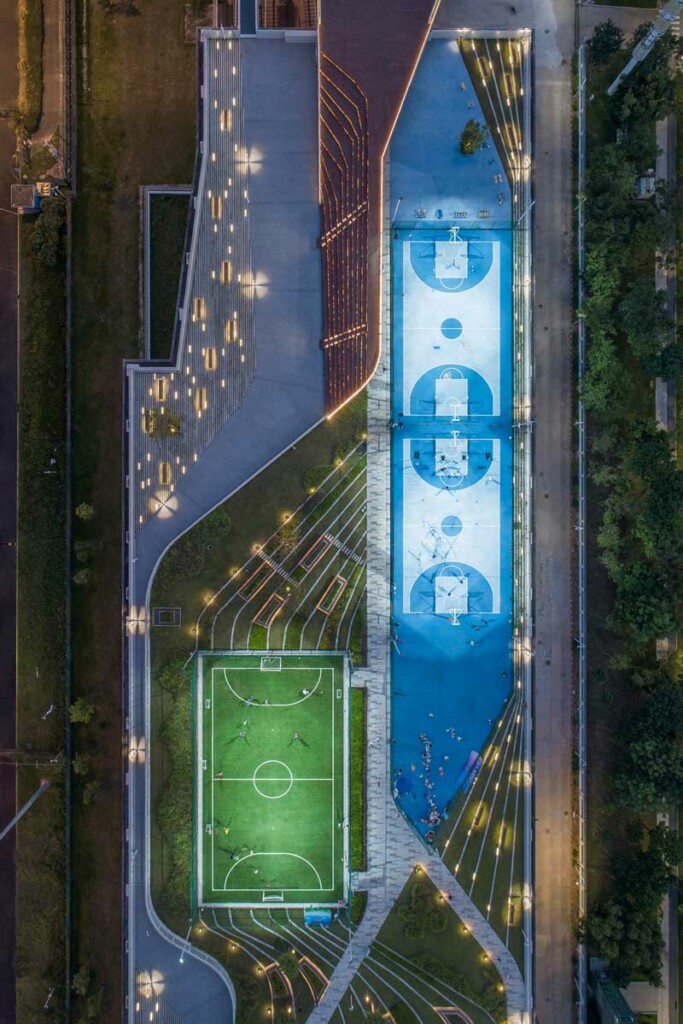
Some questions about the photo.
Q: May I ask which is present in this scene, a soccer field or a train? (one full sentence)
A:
This aerial view contains a soccer field.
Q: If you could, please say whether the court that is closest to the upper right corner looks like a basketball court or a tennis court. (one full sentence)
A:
The court that is closest to the upper right corner is a basketball court.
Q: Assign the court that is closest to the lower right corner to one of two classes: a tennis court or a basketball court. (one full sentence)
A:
I'd identify the court that is closest to the lower right corner as a basketball court.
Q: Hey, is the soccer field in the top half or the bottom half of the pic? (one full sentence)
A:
Seen from above, the soccer field lies in the bottom half of the view.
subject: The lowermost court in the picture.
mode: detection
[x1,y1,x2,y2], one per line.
[403,438,501,614]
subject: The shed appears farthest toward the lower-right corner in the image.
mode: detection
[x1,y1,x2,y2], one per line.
[586,949,640,1024]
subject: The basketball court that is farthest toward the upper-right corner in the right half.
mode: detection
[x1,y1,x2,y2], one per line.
[401,241,502,416]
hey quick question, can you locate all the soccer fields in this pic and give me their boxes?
[196,650,351,909]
